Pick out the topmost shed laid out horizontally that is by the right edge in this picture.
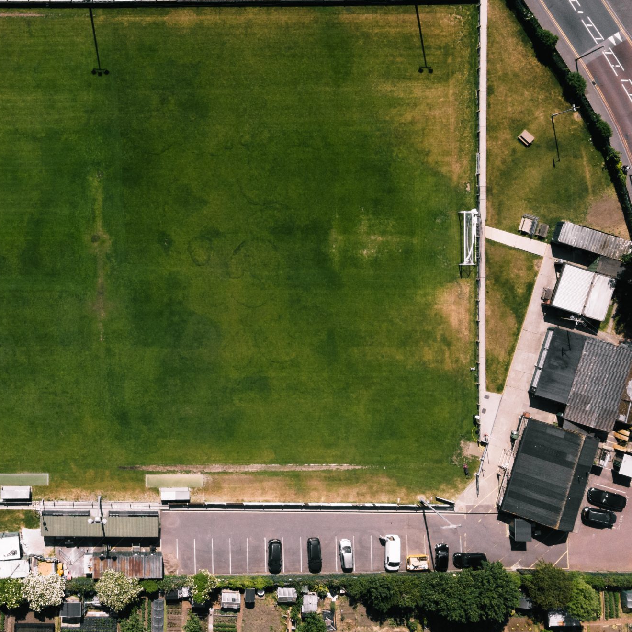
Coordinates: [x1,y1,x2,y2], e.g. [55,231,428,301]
[553,221,632,261]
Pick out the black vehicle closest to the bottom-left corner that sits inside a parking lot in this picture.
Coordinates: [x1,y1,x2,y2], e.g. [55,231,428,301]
[267,537,284,575]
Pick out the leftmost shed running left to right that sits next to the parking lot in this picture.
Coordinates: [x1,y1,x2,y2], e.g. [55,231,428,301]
[92,546,163,578]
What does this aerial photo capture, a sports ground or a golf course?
sports ground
